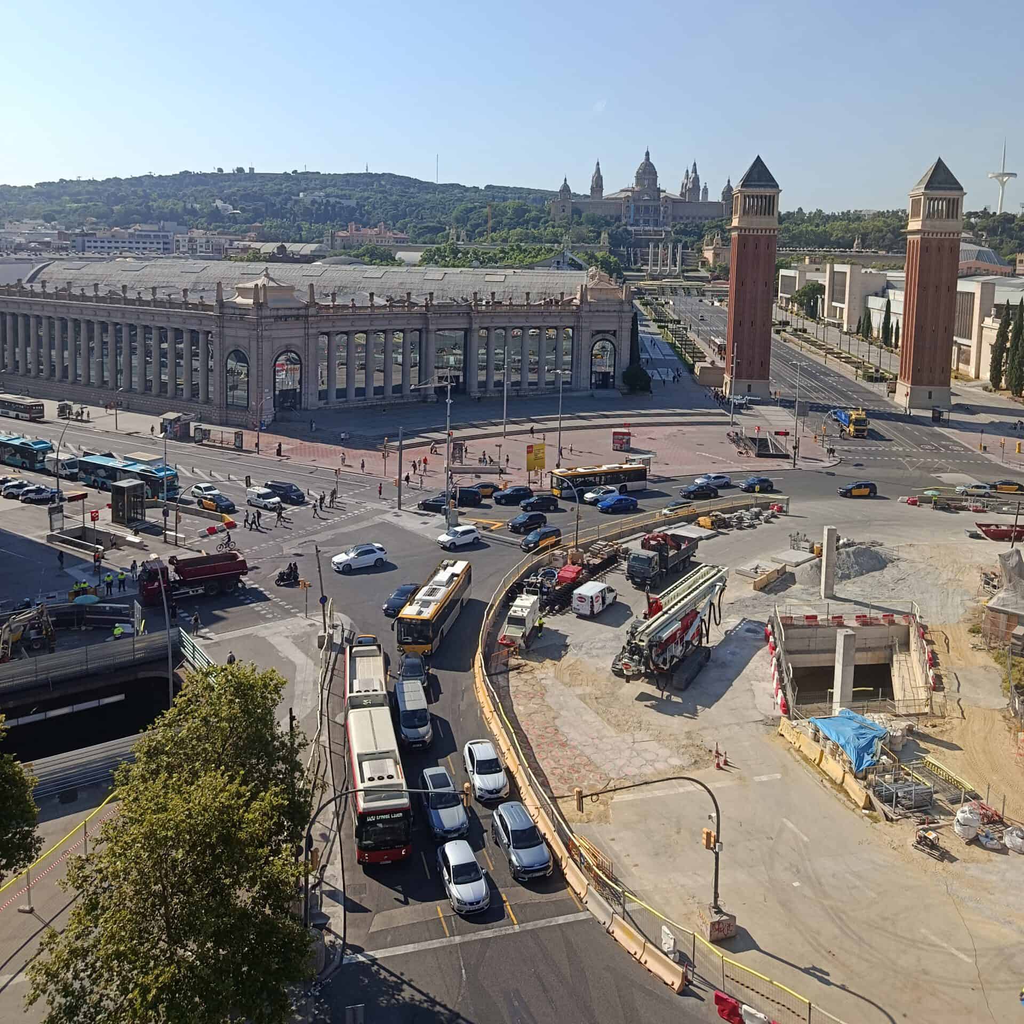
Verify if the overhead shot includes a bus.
Yes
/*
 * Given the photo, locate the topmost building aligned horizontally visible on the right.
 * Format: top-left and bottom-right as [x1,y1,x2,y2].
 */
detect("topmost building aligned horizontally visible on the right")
[549,145,749,232]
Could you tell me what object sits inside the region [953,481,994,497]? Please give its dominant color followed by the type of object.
gray car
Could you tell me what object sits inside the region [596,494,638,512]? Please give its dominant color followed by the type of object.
blue car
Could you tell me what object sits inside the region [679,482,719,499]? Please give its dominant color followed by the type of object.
black car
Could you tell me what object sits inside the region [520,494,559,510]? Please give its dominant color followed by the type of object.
black car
